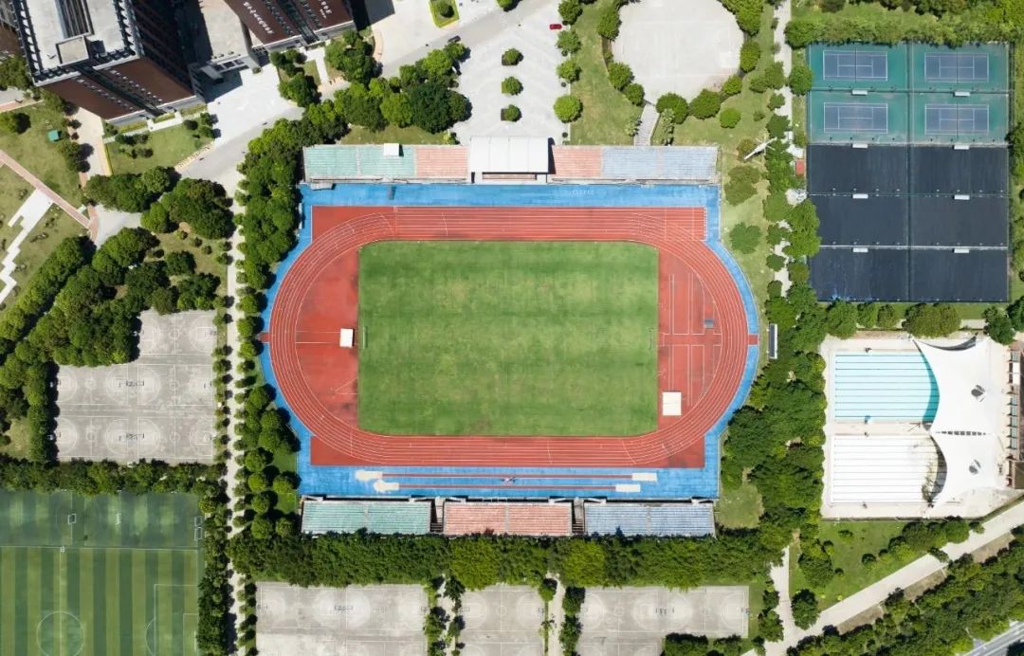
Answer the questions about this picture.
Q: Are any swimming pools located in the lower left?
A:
No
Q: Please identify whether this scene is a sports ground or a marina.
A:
sports ground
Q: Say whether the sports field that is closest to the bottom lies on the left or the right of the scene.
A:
left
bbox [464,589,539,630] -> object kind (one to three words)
basketball court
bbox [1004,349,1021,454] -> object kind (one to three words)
building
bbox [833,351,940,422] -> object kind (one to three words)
swimming pool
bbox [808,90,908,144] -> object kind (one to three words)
tennis court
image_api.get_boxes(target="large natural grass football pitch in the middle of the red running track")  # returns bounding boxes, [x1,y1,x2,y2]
[358,241,658,436]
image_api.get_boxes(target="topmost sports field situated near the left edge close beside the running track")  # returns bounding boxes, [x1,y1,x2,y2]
[0,491,203,546]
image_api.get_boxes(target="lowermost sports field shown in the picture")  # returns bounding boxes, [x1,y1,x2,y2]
[0,544,203,656]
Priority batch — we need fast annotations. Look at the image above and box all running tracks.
[260,185,759,499]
